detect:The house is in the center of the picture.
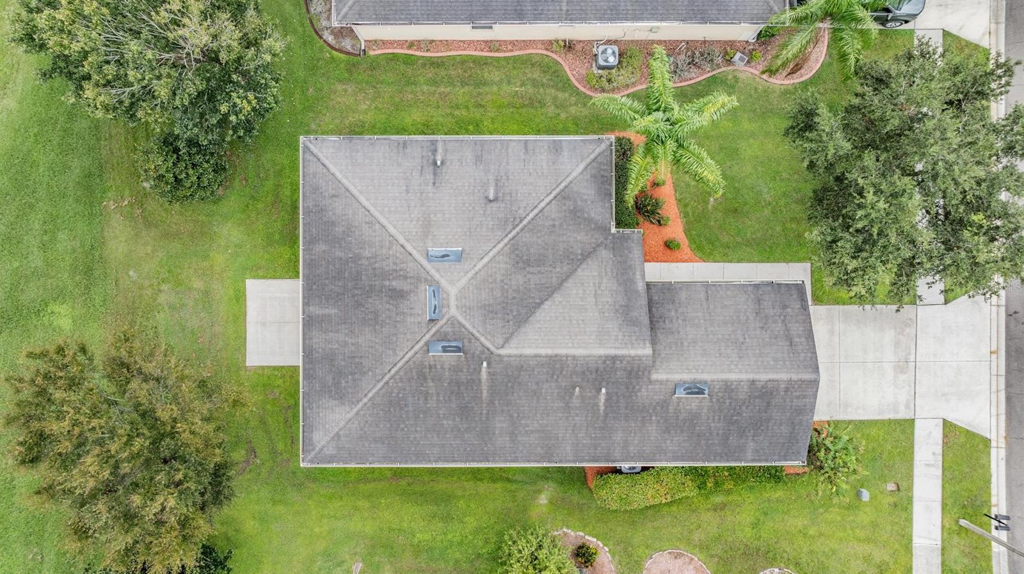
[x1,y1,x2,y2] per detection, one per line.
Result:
[301,136,823,466]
